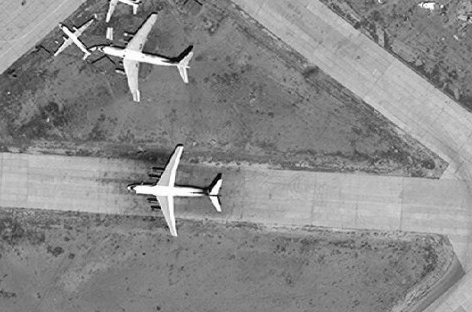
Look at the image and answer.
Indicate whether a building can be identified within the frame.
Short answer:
No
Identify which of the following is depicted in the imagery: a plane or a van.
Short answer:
plane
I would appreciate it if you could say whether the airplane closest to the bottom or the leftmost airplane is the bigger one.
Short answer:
the airplane closest to the bottom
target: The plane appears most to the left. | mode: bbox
[51,17,94,59]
